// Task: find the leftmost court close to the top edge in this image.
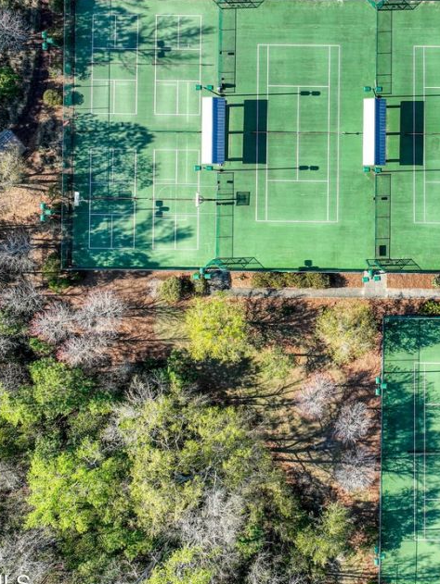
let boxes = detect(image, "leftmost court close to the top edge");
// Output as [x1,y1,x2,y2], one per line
[73,0,146,131]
